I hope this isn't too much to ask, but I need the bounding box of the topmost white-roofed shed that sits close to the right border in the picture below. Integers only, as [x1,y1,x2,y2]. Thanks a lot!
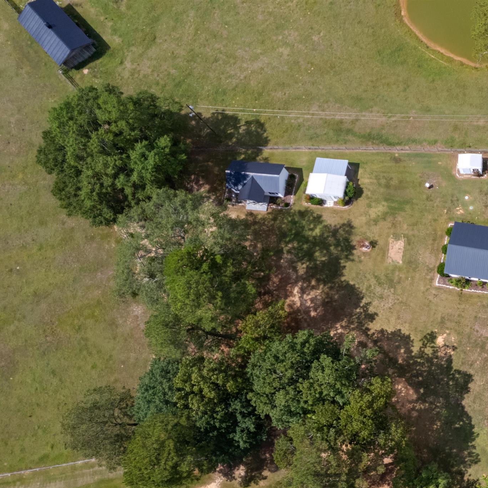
[458,153,483,176]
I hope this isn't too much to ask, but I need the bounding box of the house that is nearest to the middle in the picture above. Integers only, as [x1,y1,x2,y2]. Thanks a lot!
[225,160,289,214]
